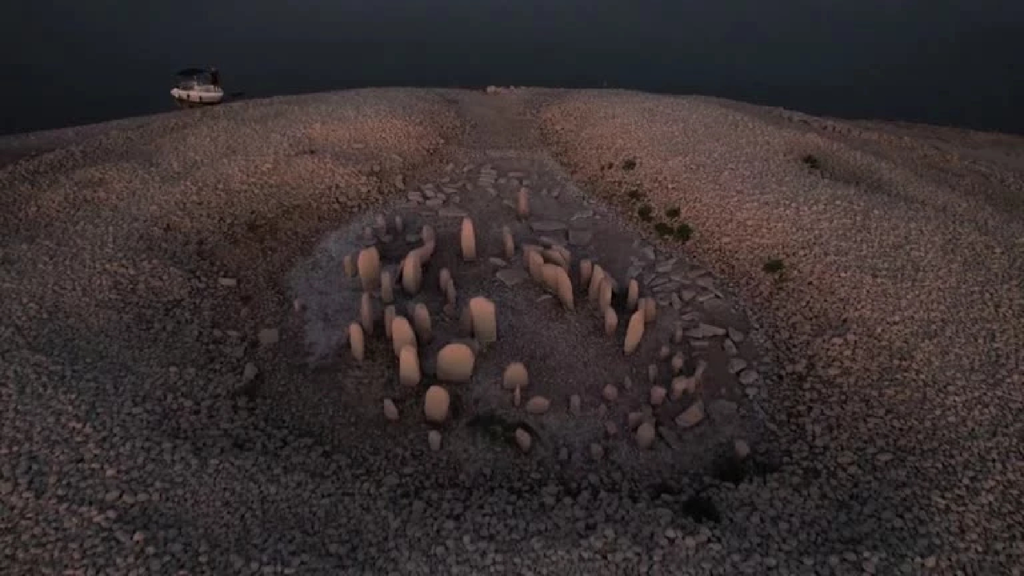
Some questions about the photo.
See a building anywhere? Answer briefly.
No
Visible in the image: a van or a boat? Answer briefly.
boat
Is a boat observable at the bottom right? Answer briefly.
No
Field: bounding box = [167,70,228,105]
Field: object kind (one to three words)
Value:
boat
